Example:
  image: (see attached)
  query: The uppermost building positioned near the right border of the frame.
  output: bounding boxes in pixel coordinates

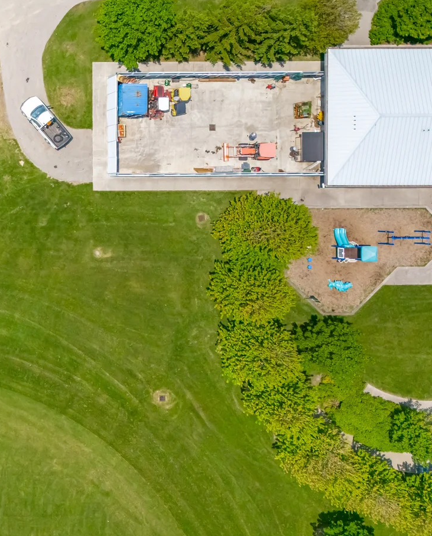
[319,48,432,188]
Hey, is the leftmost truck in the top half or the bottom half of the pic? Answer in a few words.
top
